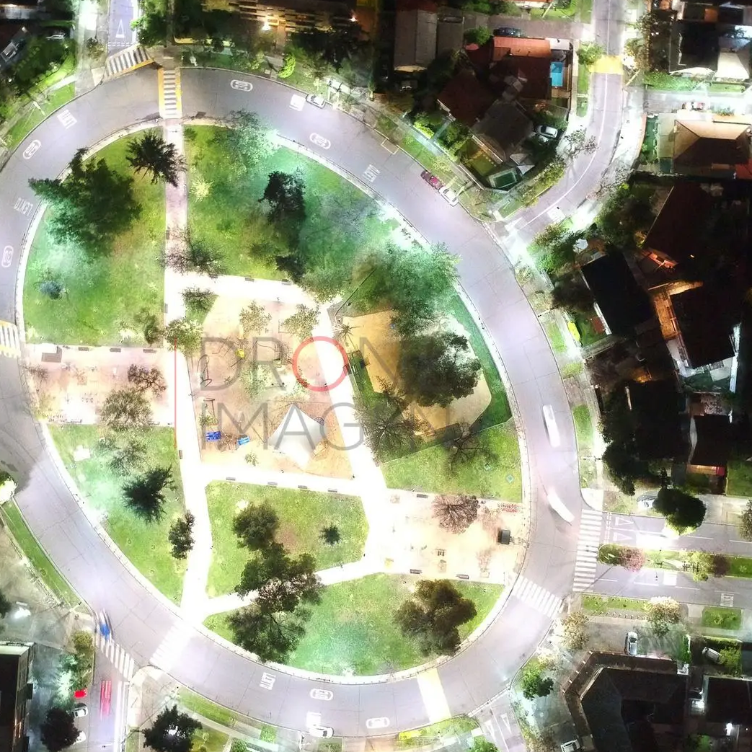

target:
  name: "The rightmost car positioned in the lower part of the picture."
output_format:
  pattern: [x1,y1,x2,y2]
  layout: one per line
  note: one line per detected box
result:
[700,645,723,662]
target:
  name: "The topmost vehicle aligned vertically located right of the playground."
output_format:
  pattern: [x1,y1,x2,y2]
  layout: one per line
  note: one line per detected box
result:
[544,411,561,445]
